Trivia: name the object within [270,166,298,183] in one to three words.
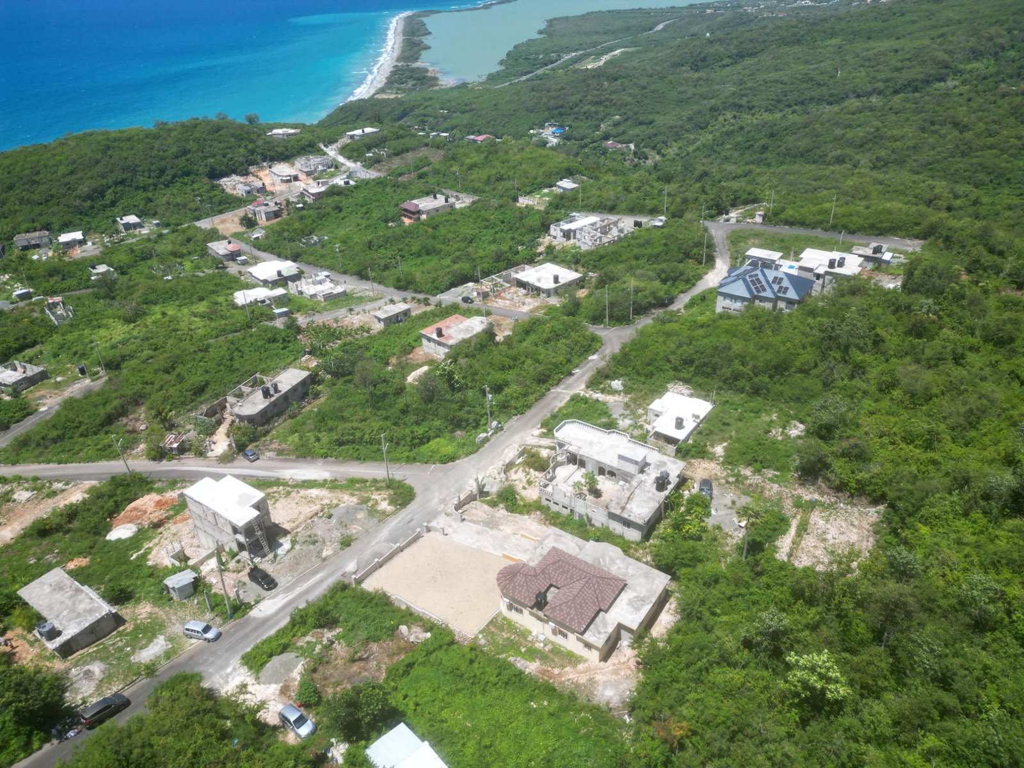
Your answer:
house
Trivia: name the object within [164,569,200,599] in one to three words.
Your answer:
shed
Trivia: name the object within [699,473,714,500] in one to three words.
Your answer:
car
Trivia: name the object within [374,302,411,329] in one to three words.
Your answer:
house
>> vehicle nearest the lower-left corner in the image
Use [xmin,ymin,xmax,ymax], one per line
[74,693,133,732]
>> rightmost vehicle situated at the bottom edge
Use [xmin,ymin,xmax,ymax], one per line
[275,702,316,740]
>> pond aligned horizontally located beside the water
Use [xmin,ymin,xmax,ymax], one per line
[420,0,705,82]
